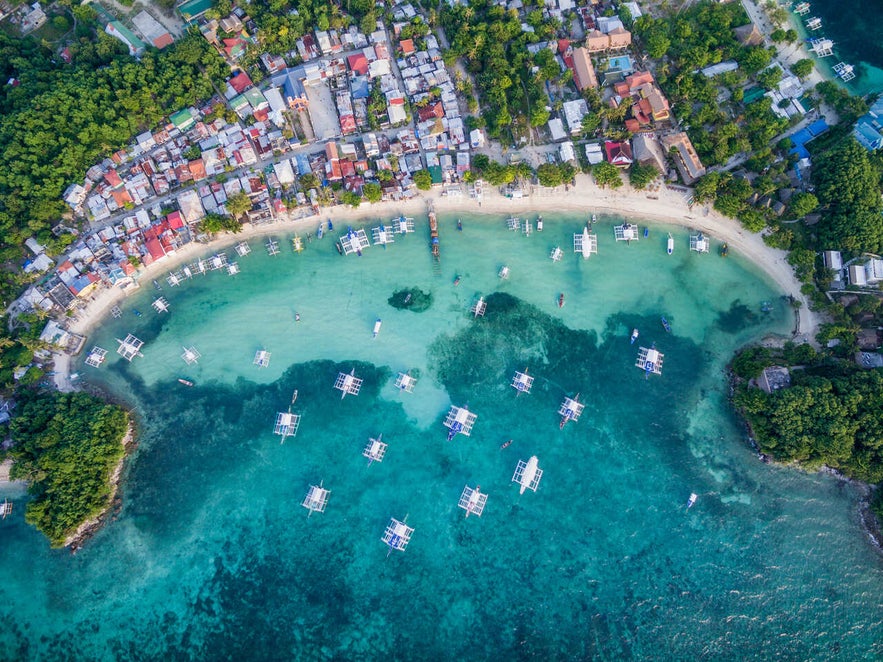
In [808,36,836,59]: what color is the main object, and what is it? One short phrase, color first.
white boat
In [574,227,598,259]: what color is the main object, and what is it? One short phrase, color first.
white boat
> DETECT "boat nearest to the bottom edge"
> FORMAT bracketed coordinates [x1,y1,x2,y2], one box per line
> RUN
[379,513,416,555]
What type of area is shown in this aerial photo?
residential area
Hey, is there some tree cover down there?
Yes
